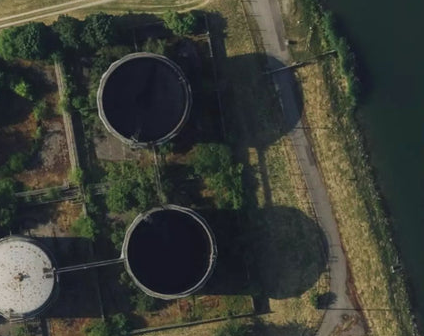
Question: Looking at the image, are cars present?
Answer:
No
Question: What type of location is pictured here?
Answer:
industrial area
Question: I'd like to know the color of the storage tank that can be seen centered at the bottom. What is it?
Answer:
black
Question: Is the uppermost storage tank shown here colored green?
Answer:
No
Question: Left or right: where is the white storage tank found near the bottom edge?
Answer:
left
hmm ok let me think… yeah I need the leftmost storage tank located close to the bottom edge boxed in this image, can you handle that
[0,236,60,322]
